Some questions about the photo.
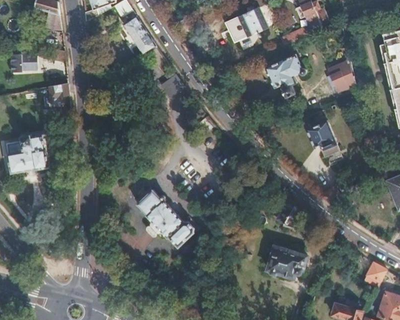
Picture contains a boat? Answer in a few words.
No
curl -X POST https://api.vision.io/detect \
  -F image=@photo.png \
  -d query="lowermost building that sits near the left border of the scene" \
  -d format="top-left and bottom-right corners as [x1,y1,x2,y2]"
[8,135,48,174]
